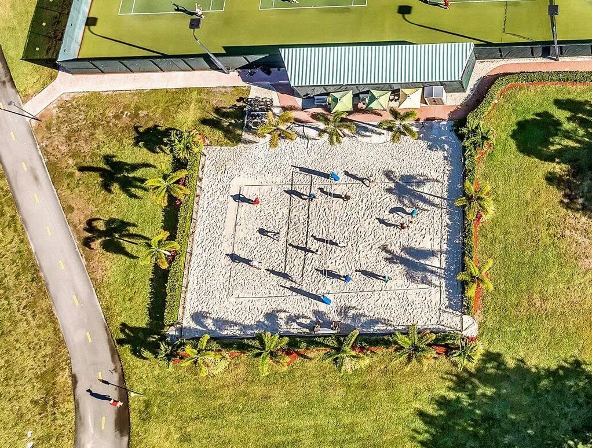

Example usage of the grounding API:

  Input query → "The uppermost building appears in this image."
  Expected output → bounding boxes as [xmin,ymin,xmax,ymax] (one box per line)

[279,43,477,97]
